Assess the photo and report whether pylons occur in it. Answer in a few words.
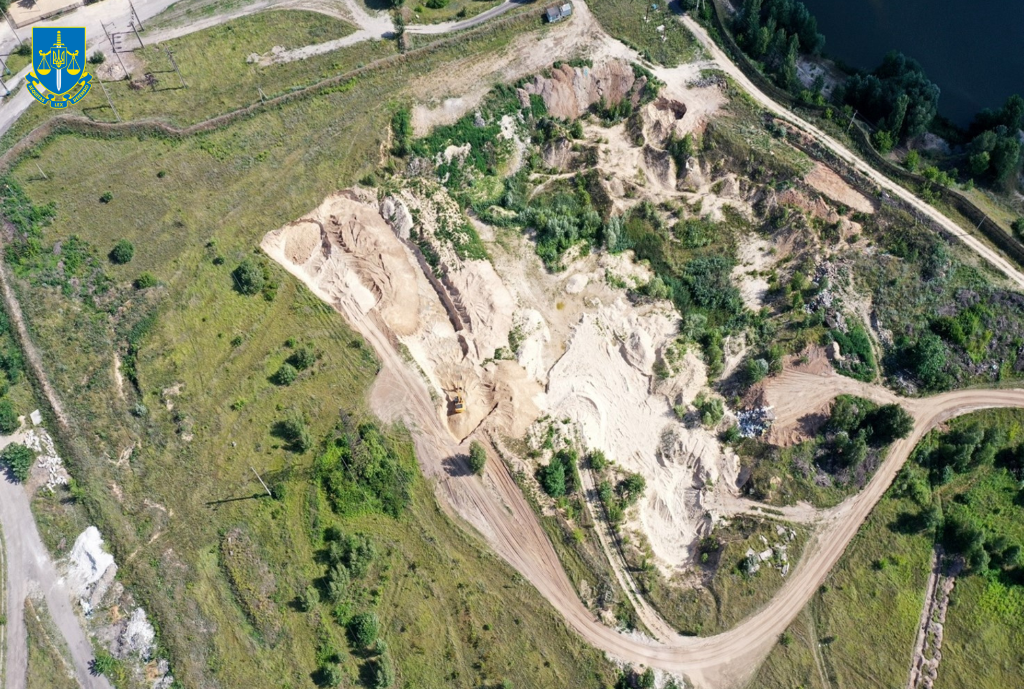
Yes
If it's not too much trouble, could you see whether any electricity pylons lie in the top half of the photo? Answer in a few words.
No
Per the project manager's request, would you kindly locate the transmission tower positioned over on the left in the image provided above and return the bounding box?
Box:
[329,407,372,481]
